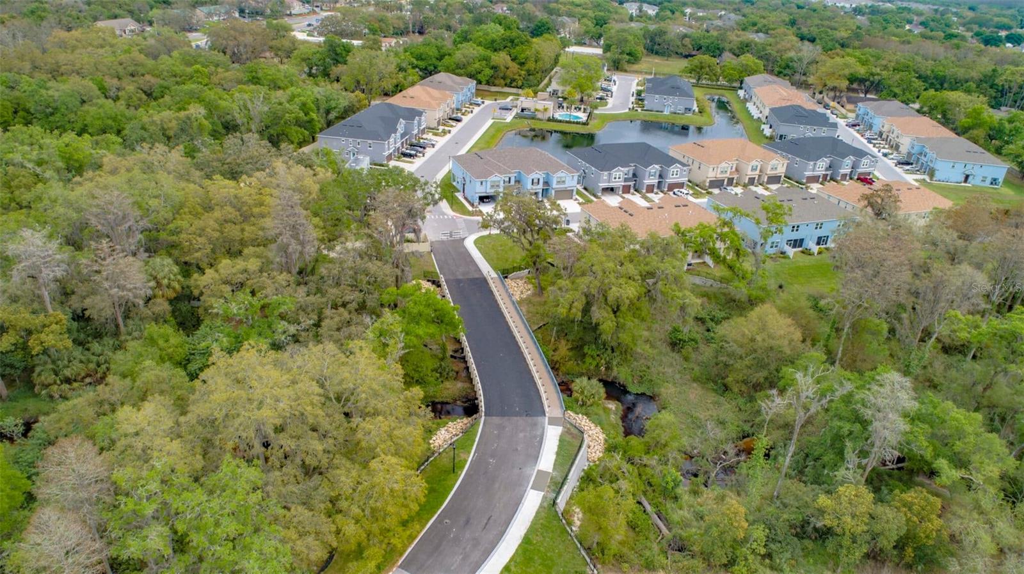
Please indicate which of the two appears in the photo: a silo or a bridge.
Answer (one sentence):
The one in the frame is a bridge.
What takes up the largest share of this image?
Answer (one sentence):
The largest share of the image is taken up by trees.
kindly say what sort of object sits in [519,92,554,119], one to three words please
building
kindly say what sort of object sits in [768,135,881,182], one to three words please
house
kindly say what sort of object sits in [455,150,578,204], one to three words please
house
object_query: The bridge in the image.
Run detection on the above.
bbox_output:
[442,271,566,422]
